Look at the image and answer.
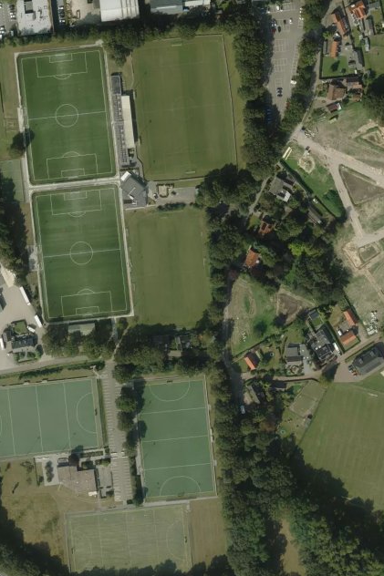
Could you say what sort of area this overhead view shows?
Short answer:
sports ground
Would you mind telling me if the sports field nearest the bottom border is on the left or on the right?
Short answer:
left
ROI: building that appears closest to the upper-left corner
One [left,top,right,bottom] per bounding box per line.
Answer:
[17,0,52,35]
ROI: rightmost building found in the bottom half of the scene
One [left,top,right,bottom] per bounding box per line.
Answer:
[352,347,384,376]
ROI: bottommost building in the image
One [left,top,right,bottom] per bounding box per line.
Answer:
[58,466,96,495]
